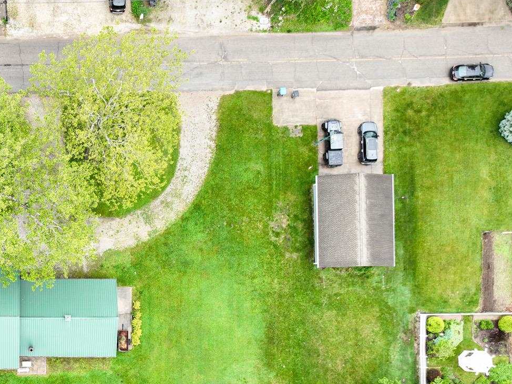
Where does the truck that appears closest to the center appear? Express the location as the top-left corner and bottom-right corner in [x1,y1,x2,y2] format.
[321,119,345,169]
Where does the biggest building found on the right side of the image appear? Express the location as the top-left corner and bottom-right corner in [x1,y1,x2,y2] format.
[306,170,393,266]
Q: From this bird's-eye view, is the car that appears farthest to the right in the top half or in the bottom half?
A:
top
